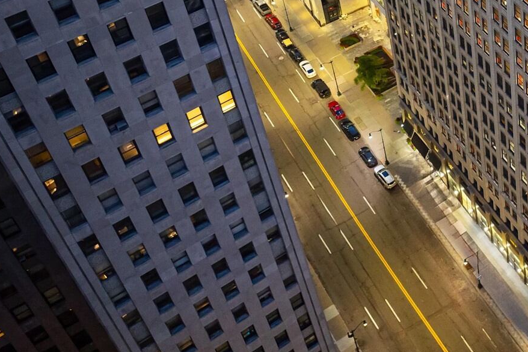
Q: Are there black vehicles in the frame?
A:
Yes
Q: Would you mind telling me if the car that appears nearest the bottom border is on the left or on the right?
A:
right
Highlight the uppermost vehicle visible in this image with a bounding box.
[253,0,271,15]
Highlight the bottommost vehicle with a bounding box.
[373,167,394,189]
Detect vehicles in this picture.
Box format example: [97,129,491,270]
[373,167,394,189]
[341,122,360,141]
[359,148,378,168]
[277,29,292,45]
[287,46,304,62]
[312,79,330,97]
[266,15,282,29]
[327,102,345,121]
[300,62,317,80]
[253,0,271,15]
